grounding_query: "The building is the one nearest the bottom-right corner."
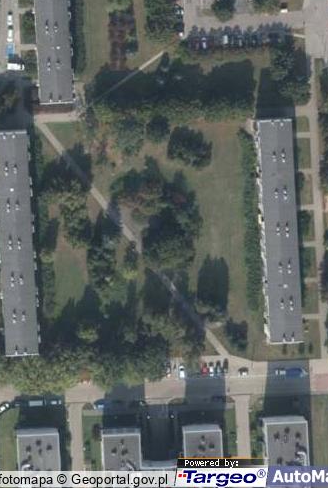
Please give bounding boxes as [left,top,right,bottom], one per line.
[257,417,307,488]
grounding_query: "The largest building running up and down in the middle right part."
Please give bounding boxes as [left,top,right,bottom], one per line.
[250,120,302,344]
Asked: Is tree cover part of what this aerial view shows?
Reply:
Yes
